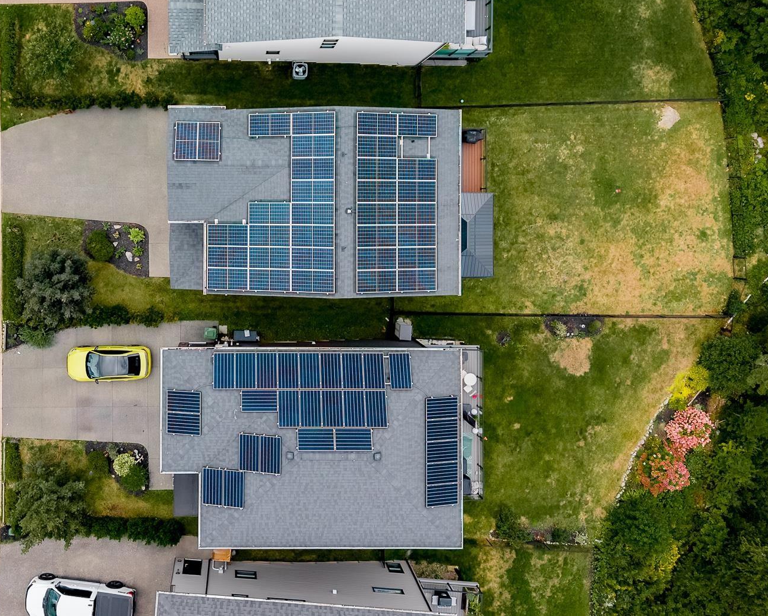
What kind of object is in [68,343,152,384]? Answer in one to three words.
car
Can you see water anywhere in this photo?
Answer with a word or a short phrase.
No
